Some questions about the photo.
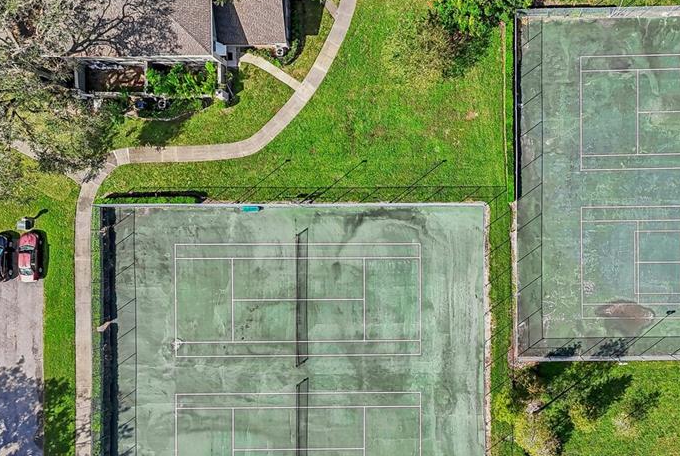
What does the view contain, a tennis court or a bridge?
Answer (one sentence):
There is a tennis court in the scene.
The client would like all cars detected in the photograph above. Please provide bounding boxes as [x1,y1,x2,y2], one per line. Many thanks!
[0,233,15,283]
[16,232,43,284]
